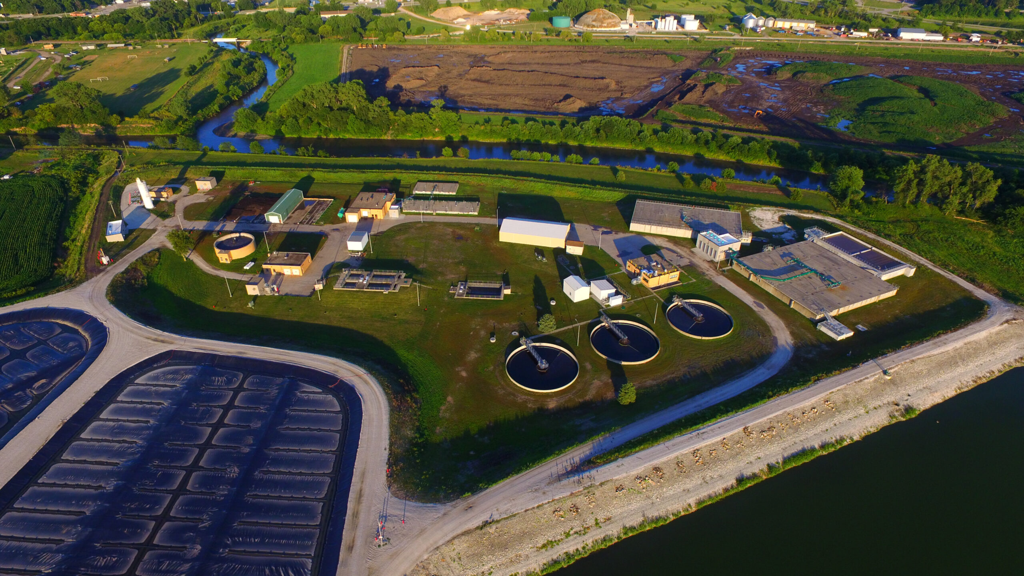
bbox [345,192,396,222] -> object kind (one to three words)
building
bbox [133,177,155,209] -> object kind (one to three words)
silo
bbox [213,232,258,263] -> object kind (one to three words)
storage tank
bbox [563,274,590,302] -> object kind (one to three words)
shed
